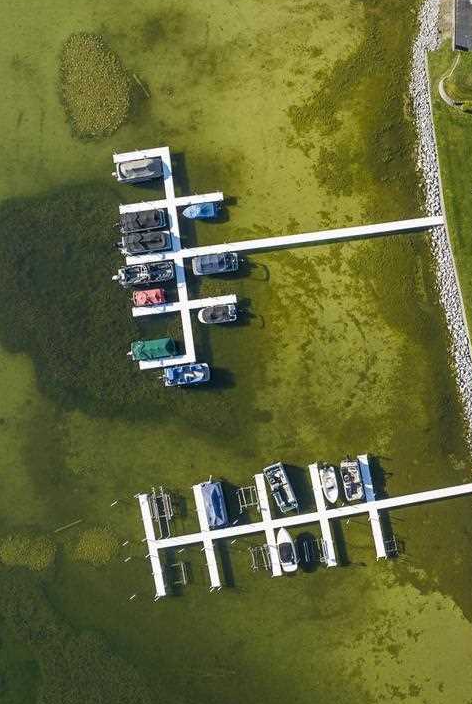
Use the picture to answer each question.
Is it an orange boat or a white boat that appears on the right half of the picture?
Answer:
white boat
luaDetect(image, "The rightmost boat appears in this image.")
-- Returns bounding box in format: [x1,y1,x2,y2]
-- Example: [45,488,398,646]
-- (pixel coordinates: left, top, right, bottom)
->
[340,458,365,502]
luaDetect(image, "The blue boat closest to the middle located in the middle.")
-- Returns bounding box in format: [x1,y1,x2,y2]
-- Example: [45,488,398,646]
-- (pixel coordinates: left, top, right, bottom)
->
[164,363,210,386]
